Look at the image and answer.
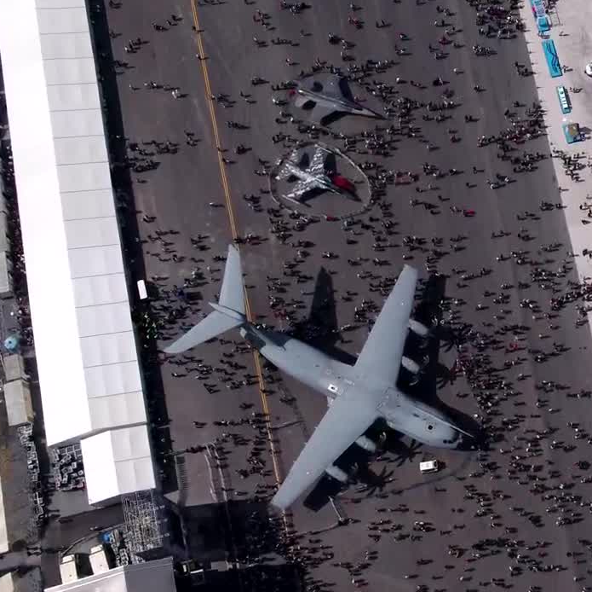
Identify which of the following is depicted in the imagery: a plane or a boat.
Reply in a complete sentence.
Visible in the photo is a plane.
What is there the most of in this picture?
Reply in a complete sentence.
The bulk of the photo consists of paved ground.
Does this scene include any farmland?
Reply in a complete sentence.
No, farmland can't be seen anywhere here.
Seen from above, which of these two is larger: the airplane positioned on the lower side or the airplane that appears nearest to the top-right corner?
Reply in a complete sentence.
The airplane positioned on the lower side takes up more space than the airplane that appears nearest to the top-right corner.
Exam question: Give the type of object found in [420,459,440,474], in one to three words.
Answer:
car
